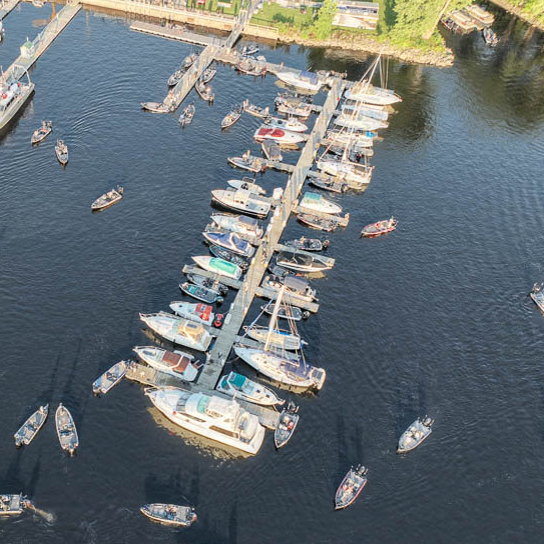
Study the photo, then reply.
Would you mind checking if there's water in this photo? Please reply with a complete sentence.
Yes, water shows up in the scene.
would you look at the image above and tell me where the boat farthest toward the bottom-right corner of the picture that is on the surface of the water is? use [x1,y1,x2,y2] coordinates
[395,414,431,454]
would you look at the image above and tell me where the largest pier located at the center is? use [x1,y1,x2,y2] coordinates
[157,78,372,381]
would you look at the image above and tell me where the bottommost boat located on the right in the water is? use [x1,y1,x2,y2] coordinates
[333,464,370,509]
